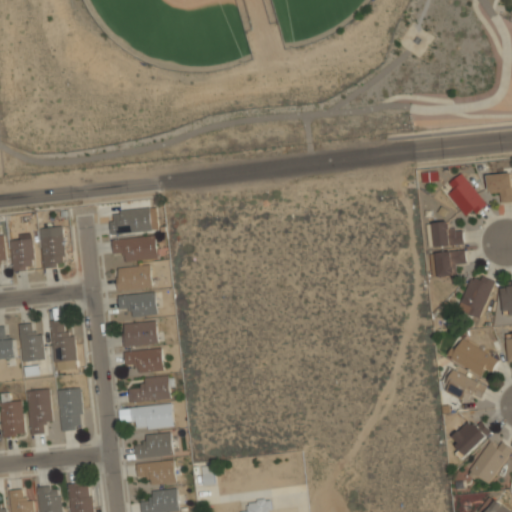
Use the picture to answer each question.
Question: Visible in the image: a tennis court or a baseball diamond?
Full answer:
The one in the frame is a baseball diamond.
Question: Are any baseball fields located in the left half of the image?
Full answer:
Yes, there is a baseball field in the left half of the image.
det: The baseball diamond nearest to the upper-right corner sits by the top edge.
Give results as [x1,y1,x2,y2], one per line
[271,0,372,48]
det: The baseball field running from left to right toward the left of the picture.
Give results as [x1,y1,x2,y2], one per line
[83,0,252,72]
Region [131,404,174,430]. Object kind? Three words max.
house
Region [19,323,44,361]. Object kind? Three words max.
house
